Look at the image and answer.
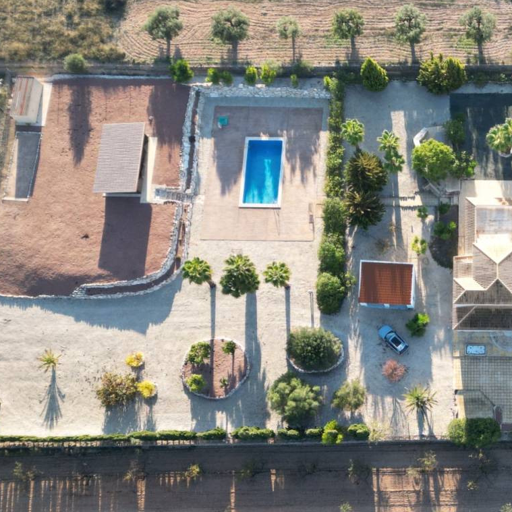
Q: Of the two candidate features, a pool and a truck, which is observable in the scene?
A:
pool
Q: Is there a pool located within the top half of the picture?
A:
Yes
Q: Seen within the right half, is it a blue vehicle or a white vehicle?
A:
blue vehicle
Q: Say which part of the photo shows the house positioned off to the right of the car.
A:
right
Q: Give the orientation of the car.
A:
on a diagonal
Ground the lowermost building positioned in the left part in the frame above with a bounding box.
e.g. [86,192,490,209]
[93,123,153,204]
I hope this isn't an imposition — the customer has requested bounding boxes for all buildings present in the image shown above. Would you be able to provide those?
[453,196,512,335]
[11,76,46,129]
[358,259,417,311]
[93,123,153,204]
